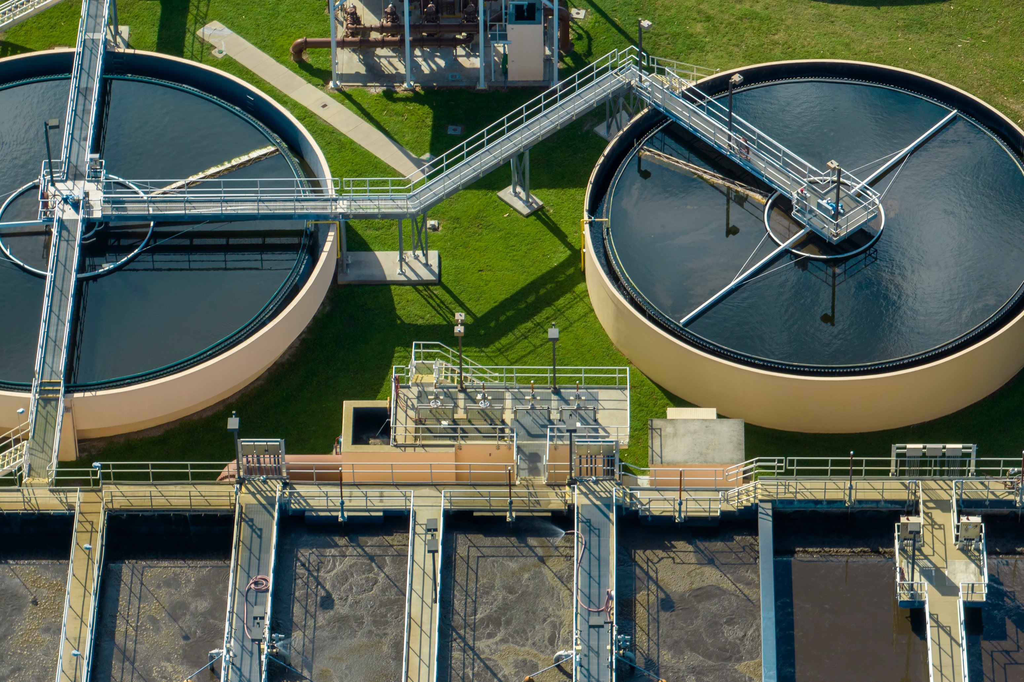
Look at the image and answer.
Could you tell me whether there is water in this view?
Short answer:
Yes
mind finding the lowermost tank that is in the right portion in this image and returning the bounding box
[584,59,1024,433]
